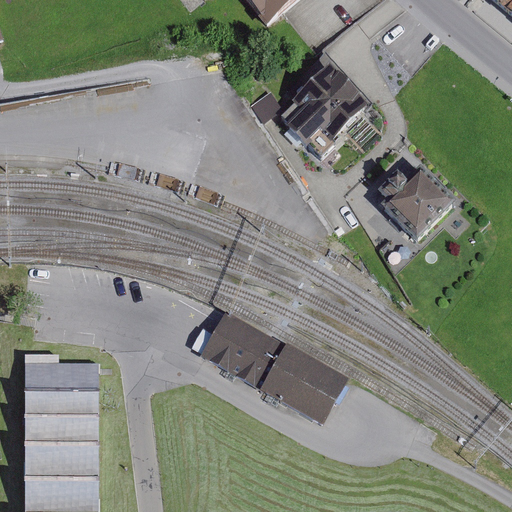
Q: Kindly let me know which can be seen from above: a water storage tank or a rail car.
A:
rail car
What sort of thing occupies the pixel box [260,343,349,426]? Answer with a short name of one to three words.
shed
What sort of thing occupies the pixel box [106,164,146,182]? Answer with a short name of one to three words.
rail car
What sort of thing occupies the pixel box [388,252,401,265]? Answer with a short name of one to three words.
umbrella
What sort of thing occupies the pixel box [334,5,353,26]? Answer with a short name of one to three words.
car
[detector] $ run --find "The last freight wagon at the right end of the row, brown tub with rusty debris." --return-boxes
[187,186,225,208]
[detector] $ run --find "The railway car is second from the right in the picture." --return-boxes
[147,174,186,193]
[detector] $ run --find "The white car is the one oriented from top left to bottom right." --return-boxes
[339,206,359,230]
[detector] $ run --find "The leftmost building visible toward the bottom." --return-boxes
[23,354,103,512]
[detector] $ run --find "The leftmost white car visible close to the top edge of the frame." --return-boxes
[383,26,406,46]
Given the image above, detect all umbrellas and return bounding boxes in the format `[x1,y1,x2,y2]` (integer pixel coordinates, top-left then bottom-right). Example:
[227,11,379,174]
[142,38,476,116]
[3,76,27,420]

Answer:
[398,246,411,259]
[388,252,401,265]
